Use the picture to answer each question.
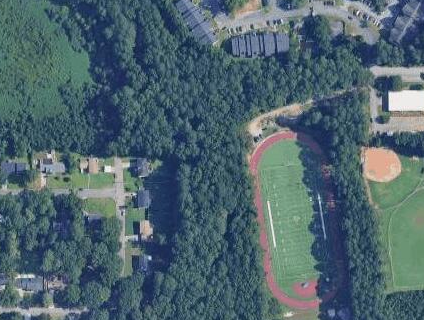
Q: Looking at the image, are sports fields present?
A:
Yes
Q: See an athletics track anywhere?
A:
Yes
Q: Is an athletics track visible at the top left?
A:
No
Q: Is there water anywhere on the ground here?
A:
No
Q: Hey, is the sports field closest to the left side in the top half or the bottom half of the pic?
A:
bottom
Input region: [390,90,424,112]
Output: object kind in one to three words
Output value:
building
